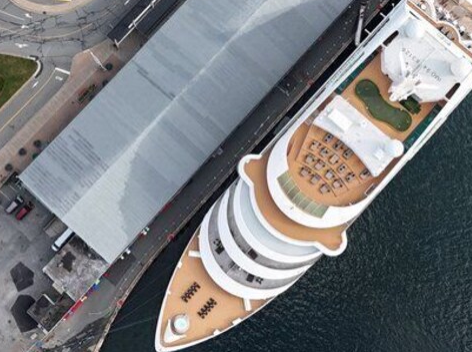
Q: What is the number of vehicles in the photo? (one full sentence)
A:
The count of vehicles comes to 3.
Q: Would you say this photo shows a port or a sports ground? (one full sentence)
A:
The picture captures a port.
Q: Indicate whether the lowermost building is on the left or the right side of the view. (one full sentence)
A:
The lowermost building sits on the left side.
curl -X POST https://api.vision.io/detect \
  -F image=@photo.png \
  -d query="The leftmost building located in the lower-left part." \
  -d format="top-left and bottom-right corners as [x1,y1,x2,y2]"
[26,293,75,335]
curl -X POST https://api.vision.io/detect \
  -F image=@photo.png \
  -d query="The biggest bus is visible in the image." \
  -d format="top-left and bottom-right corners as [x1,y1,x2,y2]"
[47,225,77,252]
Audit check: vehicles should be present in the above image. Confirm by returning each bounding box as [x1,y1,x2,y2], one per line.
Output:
[47,225,77,252]
[4,195,24,216]
[15,200,35,221]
